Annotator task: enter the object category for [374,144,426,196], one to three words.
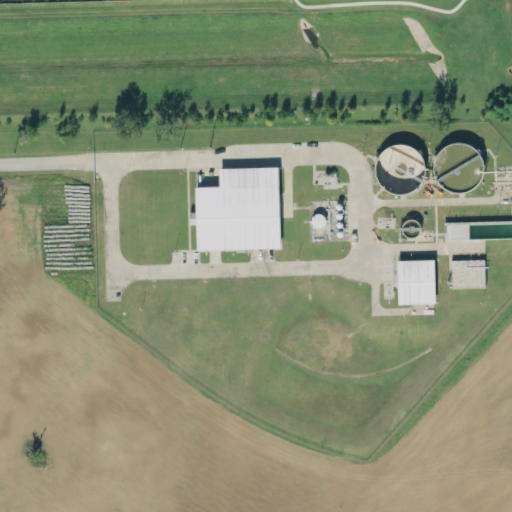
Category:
storage tank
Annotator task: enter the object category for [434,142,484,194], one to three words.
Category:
storage tank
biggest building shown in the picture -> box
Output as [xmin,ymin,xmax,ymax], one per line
[191,168,282,252]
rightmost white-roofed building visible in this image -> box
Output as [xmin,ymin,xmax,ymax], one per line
[398,260,436,306]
